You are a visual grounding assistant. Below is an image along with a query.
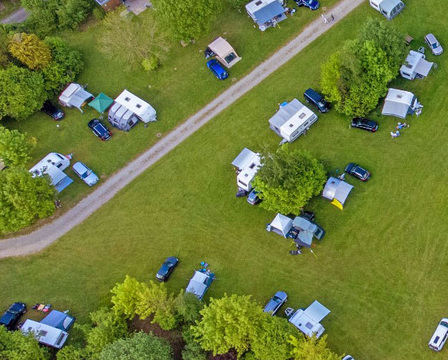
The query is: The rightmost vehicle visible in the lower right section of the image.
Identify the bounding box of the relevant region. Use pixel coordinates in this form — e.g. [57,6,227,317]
[428,320,448,353]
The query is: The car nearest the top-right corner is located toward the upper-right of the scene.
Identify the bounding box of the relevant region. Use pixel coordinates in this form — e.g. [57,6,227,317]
[426,34,444,56]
